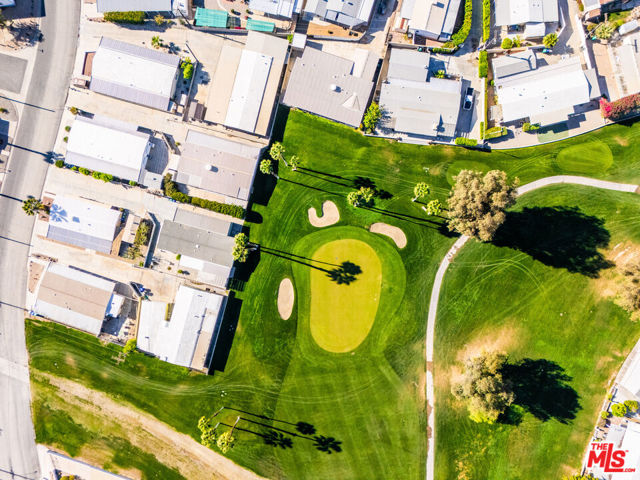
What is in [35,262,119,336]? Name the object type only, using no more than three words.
house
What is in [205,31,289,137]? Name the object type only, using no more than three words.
house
